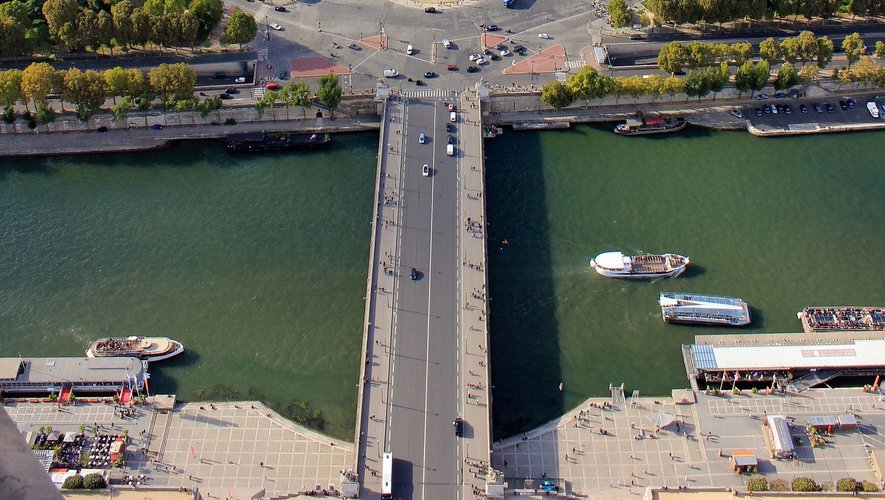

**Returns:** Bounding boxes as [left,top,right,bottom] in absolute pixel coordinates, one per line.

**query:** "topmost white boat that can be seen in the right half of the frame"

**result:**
[590,254,691,277]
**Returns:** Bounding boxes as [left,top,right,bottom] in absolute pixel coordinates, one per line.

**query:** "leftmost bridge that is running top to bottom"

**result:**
[353,96,493,500]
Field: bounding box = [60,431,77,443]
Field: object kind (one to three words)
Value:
umbrella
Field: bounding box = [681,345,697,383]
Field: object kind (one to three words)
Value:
pier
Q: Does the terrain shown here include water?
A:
Yes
